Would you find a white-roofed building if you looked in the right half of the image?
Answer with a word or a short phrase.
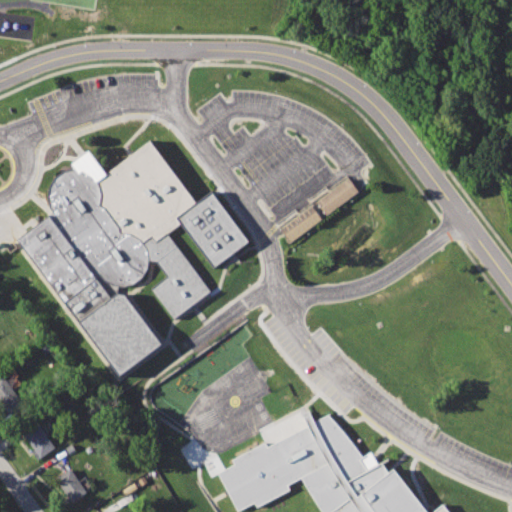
Yes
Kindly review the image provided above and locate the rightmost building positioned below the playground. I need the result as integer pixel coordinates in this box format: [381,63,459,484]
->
[218,406,448,512]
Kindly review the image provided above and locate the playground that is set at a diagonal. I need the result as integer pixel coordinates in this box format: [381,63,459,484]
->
[154,325,252,414]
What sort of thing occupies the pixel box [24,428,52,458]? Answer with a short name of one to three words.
house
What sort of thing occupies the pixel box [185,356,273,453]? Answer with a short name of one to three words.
sports court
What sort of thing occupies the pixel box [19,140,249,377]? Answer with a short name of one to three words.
building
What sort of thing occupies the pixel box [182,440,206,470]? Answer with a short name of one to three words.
building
